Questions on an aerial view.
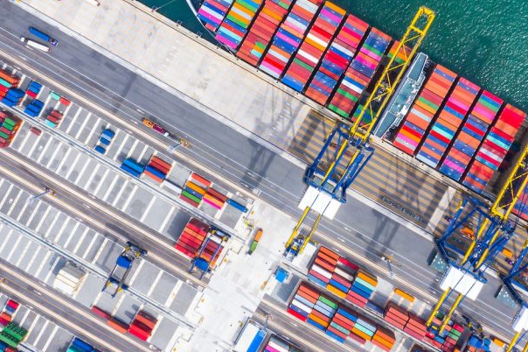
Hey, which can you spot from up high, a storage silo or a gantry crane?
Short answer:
gantry crane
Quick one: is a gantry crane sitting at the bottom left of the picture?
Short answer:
Yes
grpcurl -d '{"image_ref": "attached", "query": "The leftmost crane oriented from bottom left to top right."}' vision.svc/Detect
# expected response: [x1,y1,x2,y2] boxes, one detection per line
[98,239,148,300]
